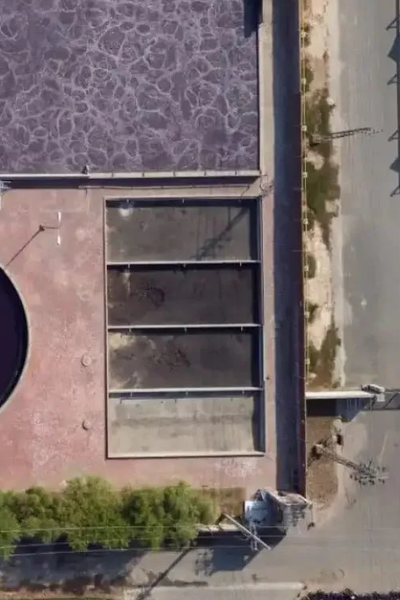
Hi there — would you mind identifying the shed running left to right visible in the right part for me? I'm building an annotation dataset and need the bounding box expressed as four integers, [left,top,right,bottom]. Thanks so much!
[262,486,313,506]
